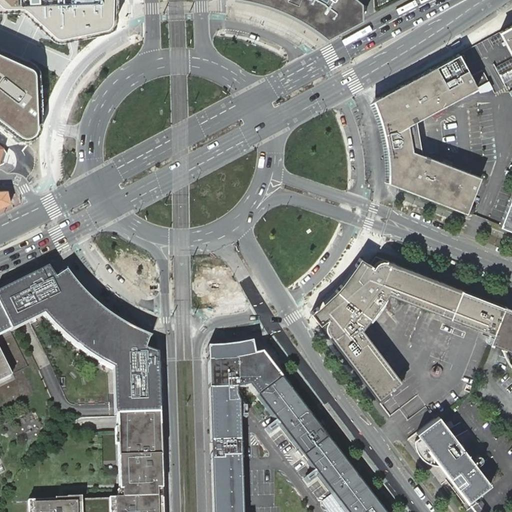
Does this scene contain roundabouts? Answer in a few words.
Yes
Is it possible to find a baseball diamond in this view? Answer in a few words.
No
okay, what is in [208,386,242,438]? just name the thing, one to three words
building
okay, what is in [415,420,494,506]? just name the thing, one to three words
building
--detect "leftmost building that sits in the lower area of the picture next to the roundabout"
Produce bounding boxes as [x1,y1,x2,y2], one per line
[0,264,162,412]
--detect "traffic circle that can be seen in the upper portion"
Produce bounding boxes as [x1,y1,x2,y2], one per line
[64,30,311,256]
